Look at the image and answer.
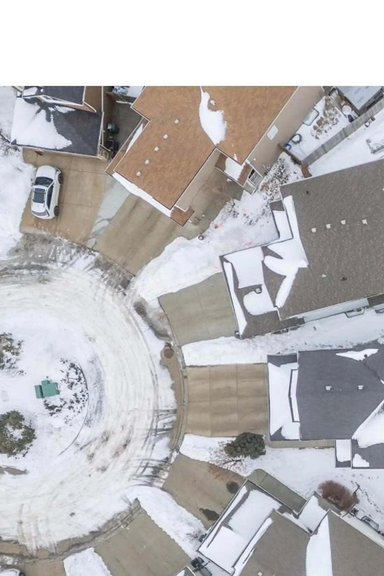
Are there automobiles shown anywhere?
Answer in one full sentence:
Yes, the image includes an automobile.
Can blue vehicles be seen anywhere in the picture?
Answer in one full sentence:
No, no blue vehicle can be seen from above.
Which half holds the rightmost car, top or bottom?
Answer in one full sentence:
The rightmost car sits in the top half of the picture.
